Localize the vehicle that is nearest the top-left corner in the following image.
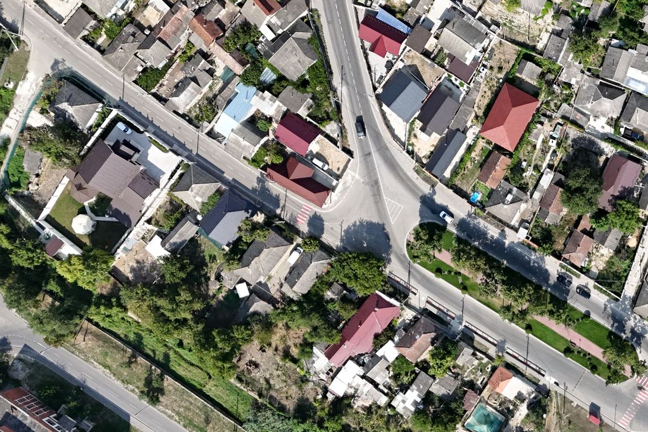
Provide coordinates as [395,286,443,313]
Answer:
[116,119,134,135]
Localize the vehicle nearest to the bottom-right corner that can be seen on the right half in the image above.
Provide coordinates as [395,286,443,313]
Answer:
[575,283,592,298]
